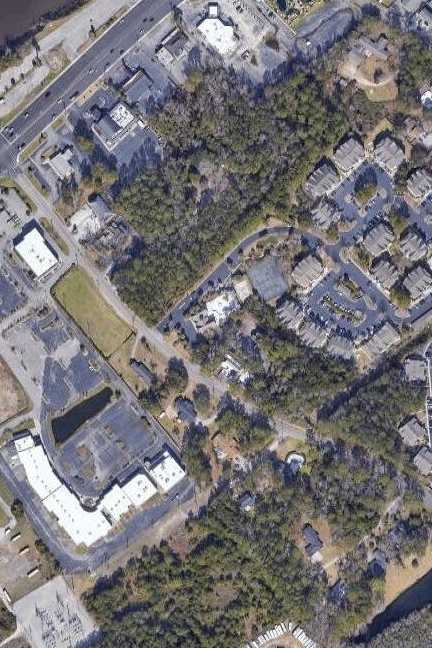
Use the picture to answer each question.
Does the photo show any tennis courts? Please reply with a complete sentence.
Yes, a tennis court is visible in the scene.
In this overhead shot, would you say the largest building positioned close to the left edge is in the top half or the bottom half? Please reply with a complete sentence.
The largest building positioned close to the left edge is in the bottom half of the image.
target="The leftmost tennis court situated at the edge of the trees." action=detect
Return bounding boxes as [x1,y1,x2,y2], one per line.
[248,255,289,300]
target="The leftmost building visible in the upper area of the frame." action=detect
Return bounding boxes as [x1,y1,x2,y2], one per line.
[14,228,59,276]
